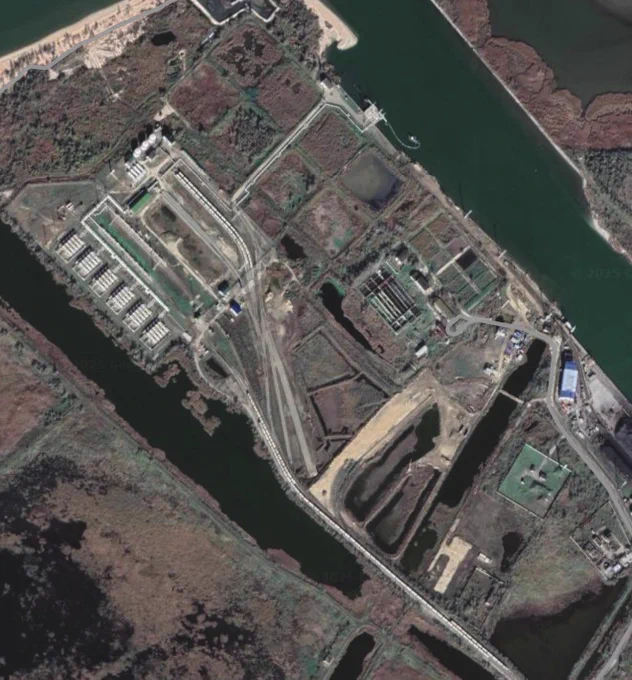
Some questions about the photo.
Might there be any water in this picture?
Yes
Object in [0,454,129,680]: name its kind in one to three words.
pond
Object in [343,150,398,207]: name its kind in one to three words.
pond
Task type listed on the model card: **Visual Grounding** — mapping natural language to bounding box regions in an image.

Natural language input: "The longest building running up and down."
[558,361,577,401]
